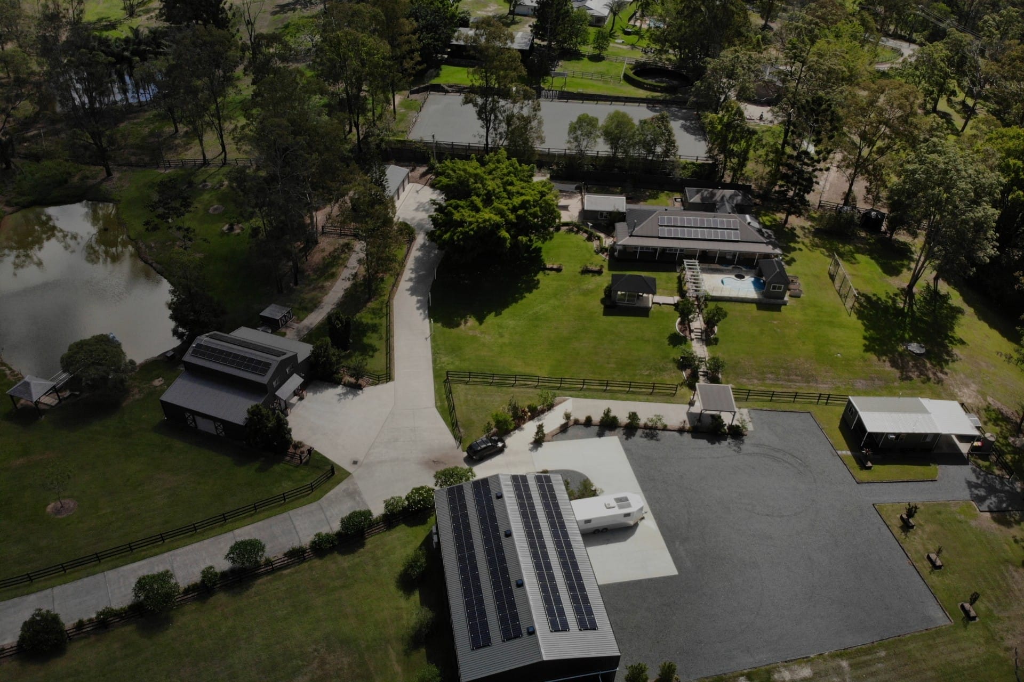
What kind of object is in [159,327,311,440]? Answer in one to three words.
barn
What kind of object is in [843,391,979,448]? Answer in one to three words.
building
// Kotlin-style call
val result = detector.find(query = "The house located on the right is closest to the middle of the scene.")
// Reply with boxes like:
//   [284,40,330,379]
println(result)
[609,275,657,307]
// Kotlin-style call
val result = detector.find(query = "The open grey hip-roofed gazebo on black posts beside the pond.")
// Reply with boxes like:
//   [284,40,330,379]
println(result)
[5,377,61,417]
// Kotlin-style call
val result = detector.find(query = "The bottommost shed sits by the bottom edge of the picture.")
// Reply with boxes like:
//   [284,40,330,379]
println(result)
[431,472,619,682]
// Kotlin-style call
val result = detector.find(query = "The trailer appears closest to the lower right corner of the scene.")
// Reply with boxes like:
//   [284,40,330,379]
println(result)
[569,489,651,527]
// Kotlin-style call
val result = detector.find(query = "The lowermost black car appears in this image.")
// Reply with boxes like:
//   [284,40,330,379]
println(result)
[467,433,508,460]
